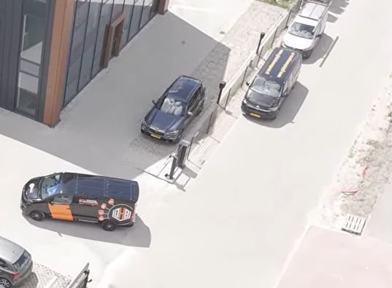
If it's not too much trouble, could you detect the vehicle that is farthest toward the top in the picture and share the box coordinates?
[280,0,334,56]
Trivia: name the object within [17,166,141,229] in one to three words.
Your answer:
van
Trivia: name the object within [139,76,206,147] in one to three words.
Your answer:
car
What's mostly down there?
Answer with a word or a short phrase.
paved ground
